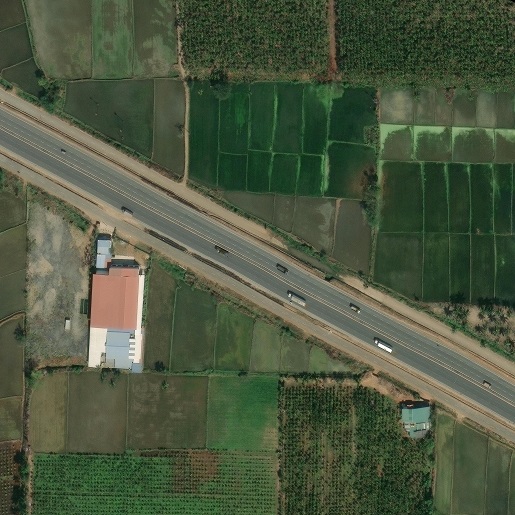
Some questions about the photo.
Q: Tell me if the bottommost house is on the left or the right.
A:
right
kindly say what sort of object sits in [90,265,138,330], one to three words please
building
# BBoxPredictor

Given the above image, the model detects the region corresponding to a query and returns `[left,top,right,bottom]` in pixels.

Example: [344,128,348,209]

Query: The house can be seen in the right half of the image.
[402,408,431,439]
